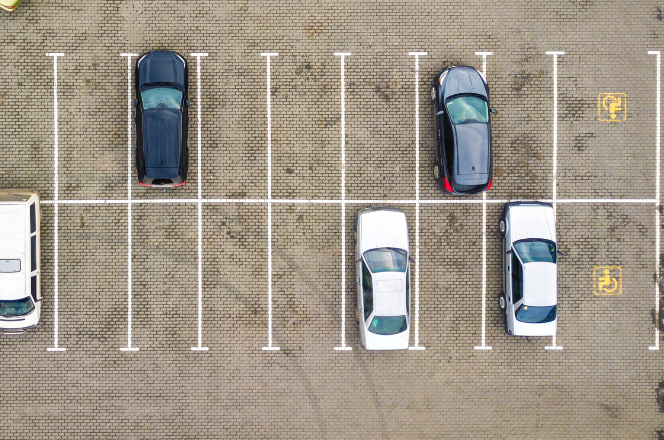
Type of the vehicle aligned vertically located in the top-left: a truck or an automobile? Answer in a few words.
automobile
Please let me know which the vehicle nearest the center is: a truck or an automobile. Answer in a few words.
automobile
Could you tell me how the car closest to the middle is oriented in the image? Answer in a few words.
from top to bottom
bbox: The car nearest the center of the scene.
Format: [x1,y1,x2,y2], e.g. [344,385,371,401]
[353,206,416,351]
